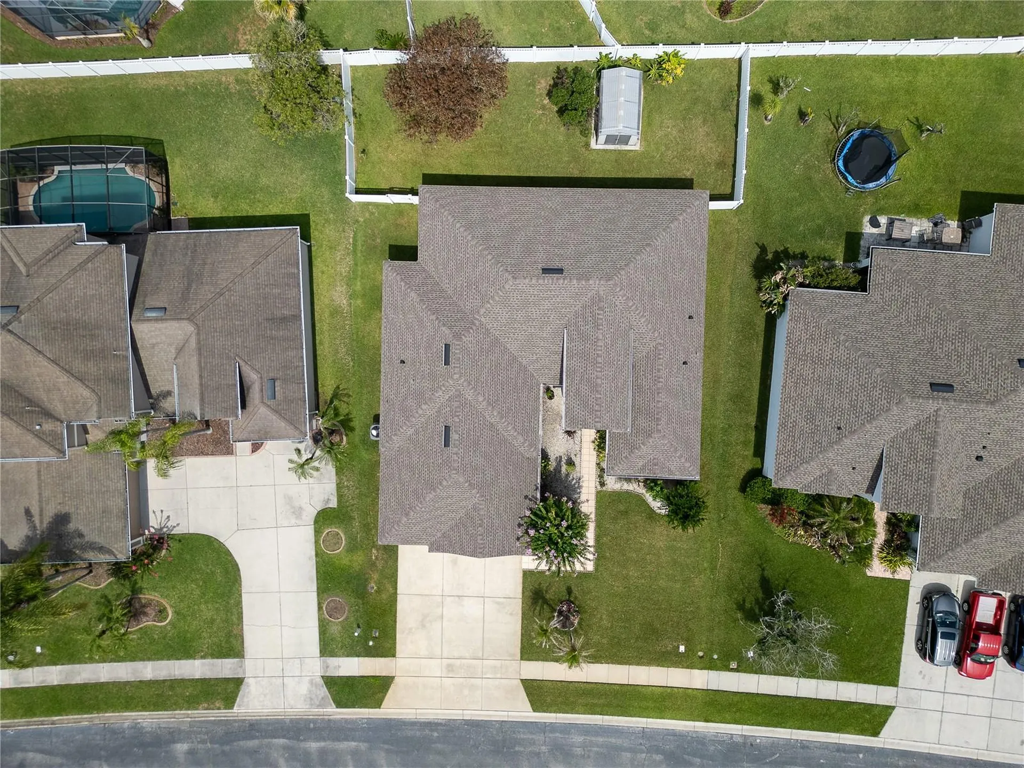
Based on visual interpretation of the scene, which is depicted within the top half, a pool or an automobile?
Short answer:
pool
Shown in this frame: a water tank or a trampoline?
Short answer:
trampoline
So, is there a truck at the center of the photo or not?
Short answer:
No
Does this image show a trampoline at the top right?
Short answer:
Yes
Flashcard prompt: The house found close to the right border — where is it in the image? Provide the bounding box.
[770,203,1024,579]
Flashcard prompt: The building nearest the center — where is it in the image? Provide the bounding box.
[376,185,708,558]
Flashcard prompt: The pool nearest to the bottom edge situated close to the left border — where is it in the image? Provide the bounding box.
[29,161,161,236]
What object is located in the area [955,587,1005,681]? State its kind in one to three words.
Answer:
truck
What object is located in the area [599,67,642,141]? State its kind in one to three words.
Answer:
shed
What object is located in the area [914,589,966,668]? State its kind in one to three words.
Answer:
car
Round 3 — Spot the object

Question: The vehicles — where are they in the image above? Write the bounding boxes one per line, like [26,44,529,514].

[955,587,1005,681]
[1000,593,1024,670]
[914,589,966,668]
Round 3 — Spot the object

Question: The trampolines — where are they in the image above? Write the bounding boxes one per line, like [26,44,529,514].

[828,115,915,201]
